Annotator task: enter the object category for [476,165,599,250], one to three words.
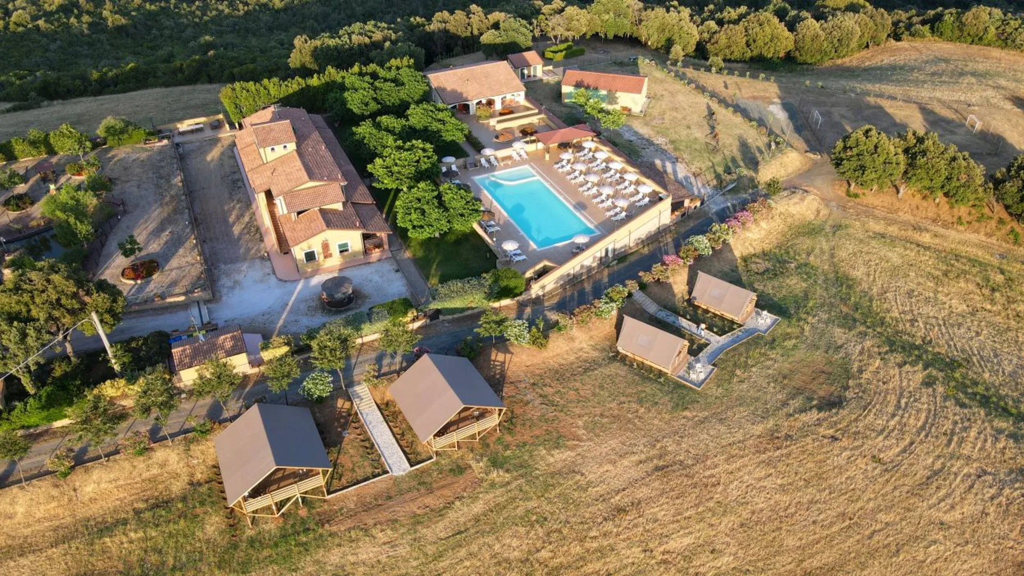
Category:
swimming pool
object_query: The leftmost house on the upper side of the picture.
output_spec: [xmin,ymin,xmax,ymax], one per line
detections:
[237,100,392,272]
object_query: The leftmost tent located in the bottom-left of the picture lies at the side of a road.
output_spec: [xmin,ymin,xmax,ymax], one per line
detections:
[212,406,332,527]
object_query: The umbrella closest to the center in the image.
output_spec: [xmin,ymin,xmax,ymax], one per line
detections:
[502,242,519,264]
